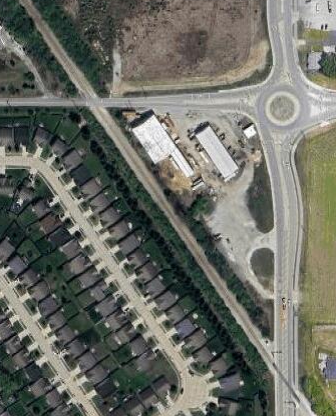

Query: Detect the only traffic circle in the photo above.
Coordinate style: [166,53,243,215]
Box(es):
[220,61,327,158]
